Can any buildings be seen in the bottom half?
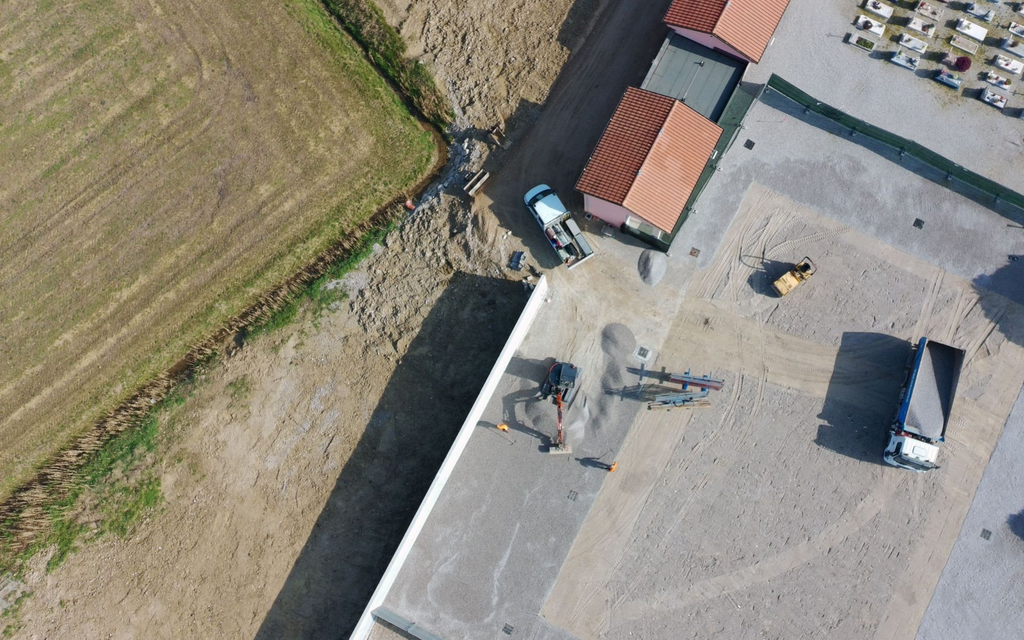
No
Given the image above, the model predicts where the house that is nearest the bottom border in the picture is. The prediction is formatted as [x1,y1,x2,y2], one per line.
[574,85,725,251]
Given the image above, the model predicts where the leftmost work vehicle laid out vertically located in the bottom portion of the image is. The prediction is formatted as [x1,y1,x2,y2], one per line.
[540,359,585,452]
